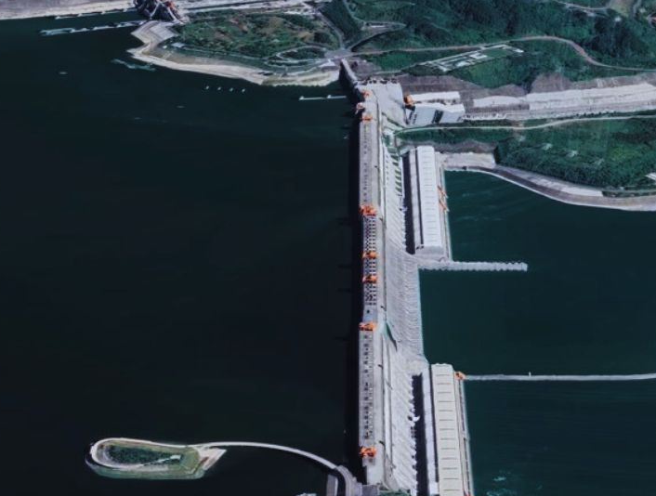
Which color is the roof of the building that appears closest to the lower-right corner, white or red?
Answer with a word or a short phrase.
white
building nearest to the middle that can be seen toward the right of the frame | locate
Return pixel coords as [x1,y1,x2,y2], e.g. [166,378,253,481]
[401,147,451,263]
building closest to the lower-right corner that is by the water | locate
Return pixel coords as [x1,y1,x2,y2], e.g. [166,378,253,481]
[410,365,473,496]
